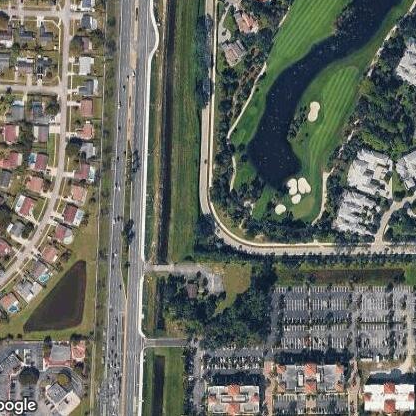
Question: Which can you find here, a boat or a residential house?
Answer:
residential house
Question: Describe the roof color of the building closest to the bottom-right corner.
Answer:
white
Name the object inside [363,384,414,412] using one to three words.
building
